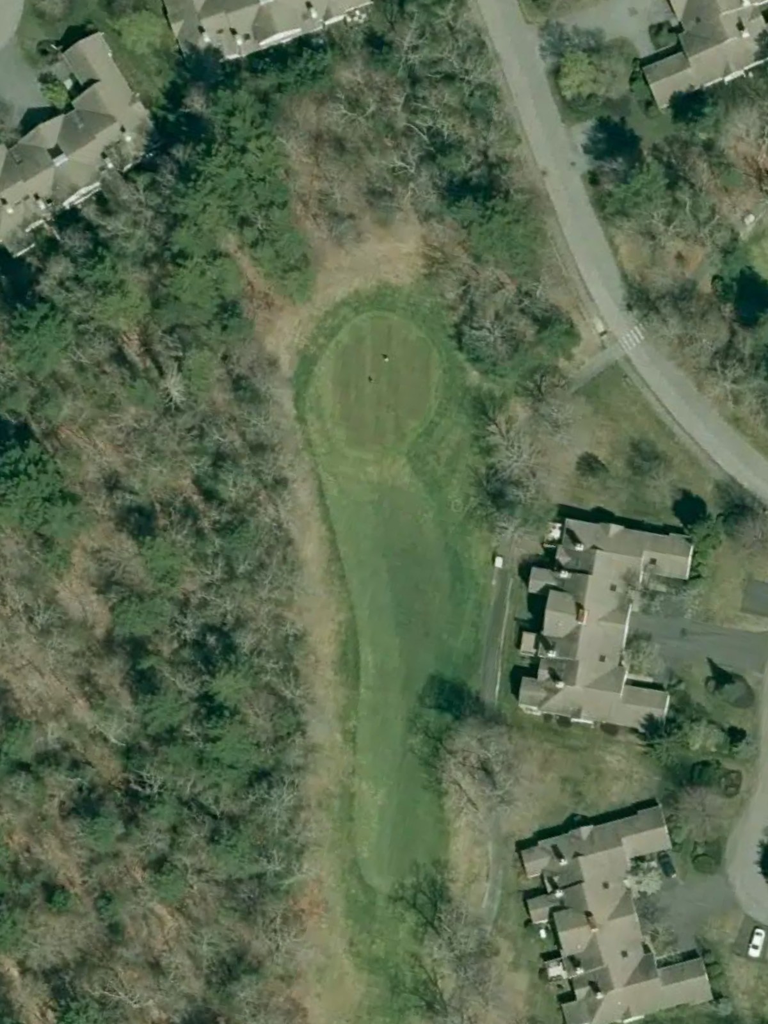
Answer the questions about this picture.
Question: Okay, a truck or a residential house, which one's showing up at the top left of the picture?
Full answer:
You can see a residential house at the top left of the picture.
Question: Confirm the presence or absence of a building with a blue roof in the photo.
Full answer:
No, the scene contains no building with a blue roof.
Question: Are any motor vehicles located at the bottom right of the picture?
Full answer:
Yes, there is a motor vehicle at the bottom right of the picture.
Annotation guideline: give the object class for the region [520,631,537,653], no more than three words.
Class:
shed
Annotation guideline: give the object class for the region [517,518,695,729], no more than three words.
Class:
house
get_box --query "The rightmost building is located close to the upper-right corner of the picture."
[642,0,768,108]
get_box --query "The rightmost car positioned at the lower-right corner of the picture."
[748,927,765,958]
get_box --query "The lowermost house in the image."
[518,803,713,1024]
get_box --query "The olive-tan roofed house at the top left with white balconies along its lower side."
[0,33,156,259]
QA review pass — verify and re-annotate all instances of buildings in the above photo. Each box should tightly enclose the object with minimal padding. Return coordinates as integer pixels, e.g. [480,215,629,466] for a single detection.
[518,803,713,1024]
[0,33,156,259]
[517,518,695,729]
[159,0,423,64]
[642,0,768,108]
[520,631,537,653]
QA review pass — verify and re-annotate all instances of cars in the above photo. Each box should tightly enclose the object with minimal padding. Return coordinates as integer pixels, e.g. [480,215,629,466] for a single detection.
[748,927,765,958]
[657,849,677,880]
